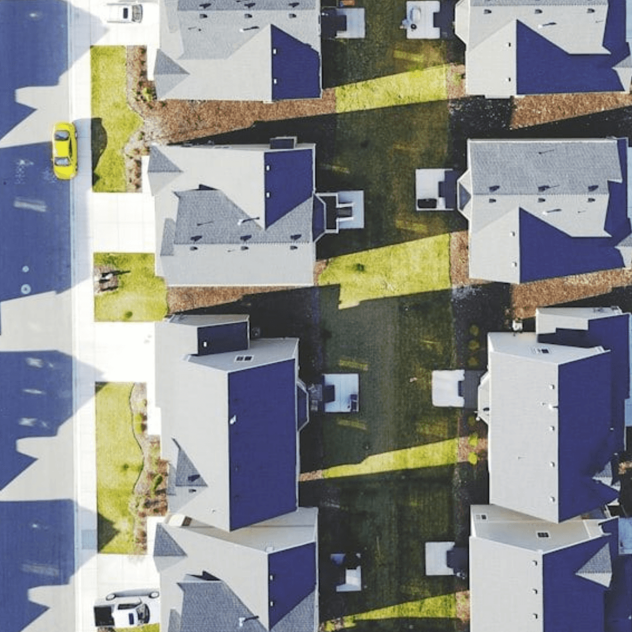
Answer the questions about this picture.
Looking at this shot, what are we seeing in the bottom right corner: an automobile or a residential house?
residential house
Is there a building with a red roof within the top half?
No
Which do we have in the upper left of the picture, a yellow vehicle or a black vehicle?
yellow vehicle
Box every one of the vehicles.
[85,594,158,632]
[94,0,157,29]
[48,121,77,179]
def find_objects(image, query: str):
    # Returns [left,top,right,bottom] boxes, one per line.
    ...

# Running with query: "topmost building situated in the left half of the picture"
[153,0,321,103]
